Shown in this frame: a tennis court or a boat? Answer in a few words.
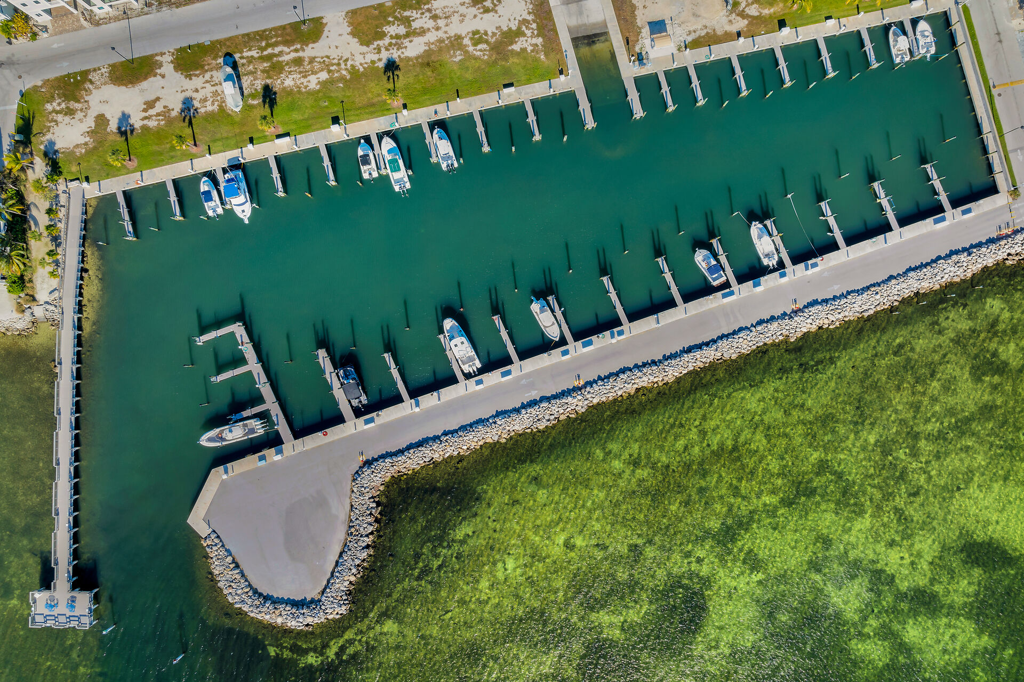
boat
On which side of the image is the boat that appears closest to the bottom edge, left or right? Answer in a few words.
left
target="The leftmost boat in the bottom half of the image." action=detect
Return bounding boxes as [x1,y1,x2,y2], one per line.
[196,420,266,447]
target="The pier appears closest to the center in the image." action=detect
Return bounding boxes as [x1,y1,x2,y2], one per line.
[492,313,519,363]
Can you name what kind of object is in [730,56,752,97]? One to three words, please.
pier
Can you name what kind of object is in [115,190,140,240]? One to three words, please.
pier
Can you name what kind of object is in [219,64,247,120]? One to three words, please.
boat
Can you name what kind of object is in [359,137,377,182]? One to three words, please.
boat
